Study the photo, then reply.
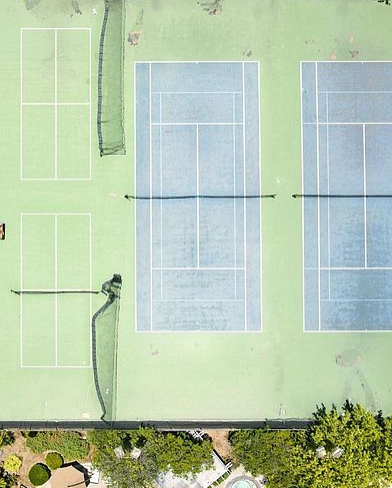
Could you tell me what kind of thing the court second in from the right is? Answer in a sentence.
It looks like the court second in from the right is a tennis court.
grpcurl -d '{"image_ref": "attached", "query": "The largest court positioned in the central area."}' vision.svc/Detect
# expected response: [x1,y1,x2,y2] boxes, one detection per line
[135,62,263,333]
